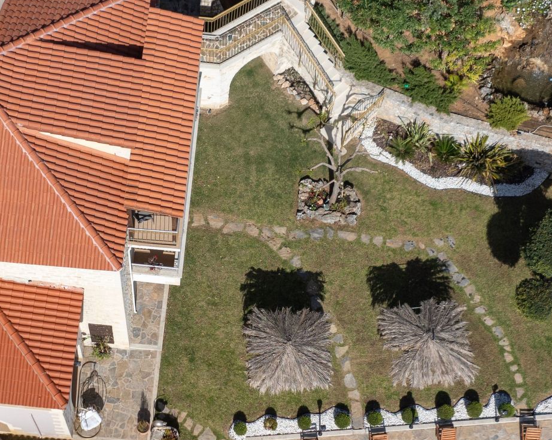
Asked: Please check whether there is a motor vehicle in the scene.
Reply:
No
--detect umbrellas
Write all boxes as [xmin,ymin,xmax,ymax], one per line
[369,293,478,398]
[235,301,340,398]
